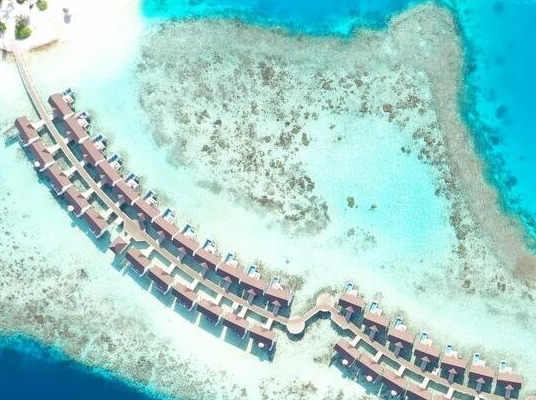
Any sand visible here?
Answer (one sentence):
Yes, there is sand in the image.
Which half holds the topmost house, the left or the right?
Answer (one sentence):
The topmost house is on the left side of the image.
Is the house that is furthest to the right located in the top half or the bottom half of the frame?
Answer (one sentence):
Seen from above, the house that is furthest to the right lies in the bottom half of the view.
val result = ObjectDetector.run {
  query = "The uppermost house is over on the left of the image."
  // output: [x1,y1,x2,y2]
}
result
[47,93,77,124]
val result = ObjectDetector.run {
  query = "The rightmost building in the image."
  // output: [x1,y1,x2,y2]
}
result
[495,366,523,399]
